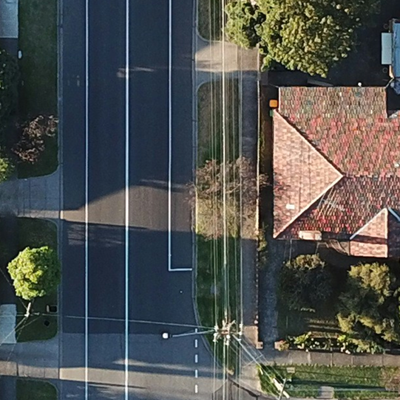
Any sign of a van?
No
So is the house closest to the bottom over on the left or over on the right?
right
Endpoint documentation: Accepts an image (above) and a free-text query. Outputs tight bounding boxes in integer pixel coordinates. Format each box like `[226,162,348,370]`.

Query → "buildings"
[381,19,400,77]
[272,81,400,258]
